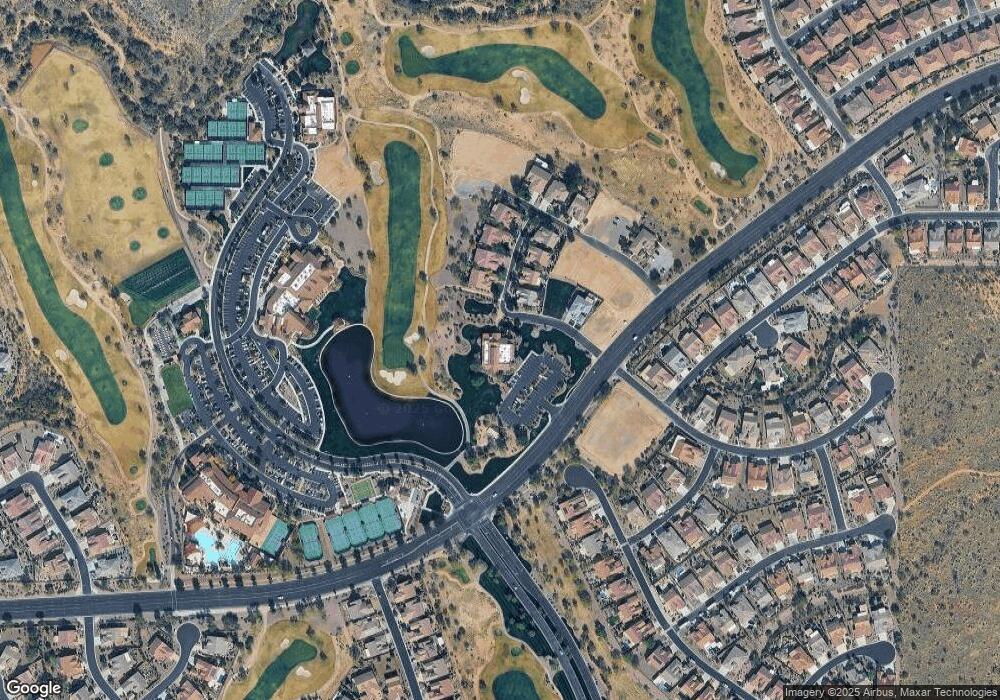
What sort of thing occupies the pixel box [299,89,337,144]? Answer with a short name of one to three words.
building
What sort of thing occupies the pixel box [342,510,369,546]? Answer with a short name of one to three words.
tennis court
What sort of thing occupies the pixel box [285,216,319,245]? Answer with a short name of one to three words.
roundabout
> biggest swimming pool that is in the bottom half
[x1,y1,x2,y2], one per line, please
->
[190,525,248,571]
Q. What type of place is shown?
residential area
